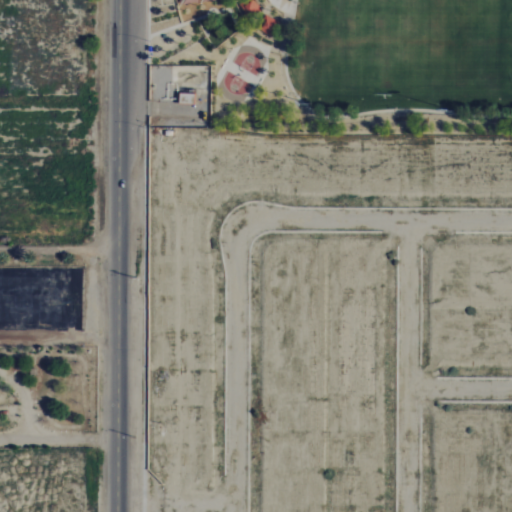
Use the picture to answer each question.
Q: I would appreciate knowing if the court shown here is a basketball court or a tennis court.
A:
basketball court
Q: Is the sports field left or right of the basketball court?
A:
on its right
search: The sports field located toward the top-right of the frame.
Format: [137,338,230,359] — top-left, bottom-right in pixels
[287,0,512,116]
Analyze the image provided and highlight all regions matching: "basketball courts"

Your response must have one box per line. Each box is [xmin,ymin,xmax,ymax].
[216,37,272,104]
